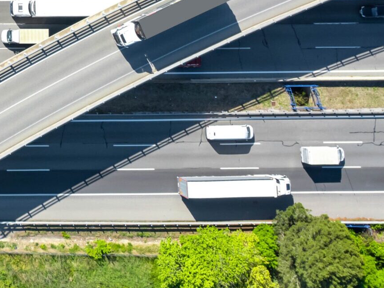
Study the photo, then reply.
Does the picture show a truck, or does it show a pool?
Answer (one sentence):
Looking from above, you can make out a truck.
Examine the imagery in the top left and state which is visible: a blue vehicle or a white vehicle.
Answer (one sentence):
There is a white vehicle in the top left.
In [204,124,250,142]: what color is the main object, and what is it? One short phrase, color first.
white vehicle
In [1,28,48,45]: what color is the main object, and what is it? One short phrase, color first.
white vehicle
